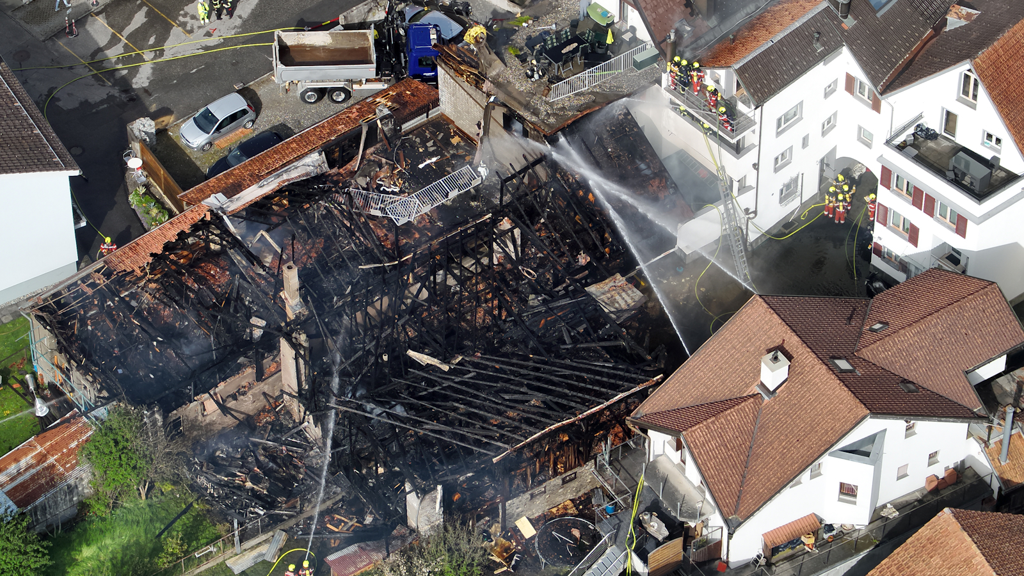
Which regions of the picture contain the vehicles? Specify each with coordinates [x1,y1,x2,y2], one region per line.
[208,123,287,176]
[413,12,468,49]
[176,89,259,154]
[866,266,894,292]
[270,0,456,103]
